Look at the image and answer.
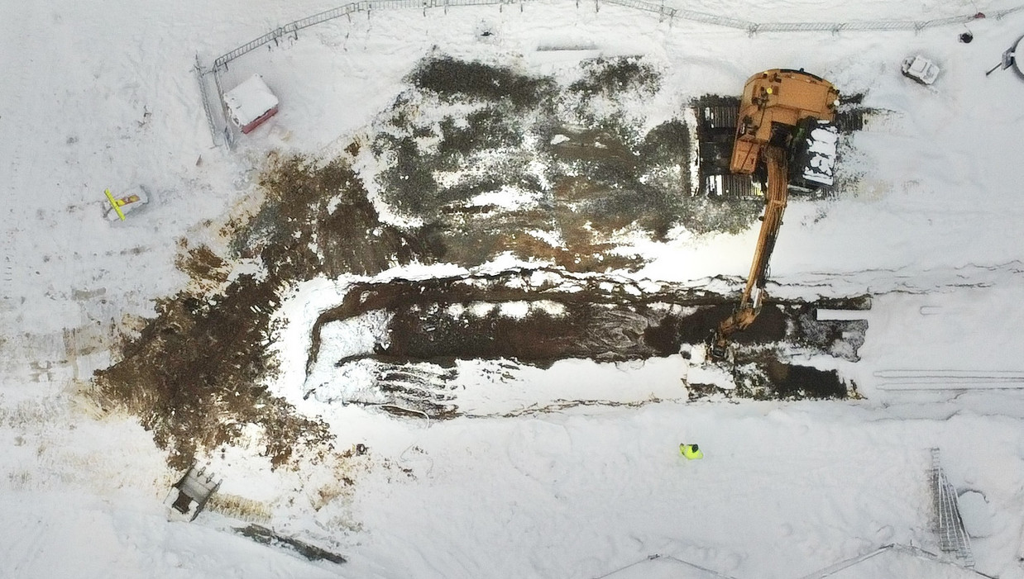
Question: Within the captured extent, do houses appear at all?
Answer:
No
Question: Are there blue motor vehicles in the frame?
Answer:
No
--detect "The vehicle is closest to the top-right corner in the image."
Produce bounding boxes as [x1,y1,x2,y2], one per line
[898,56,939,87]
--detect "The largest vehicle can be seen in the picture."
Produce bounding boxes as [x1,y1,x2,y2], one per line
[695,68,840,363]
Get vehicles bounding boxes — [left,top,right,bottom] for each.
[695,68,840,363]
[898,56,939,87]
